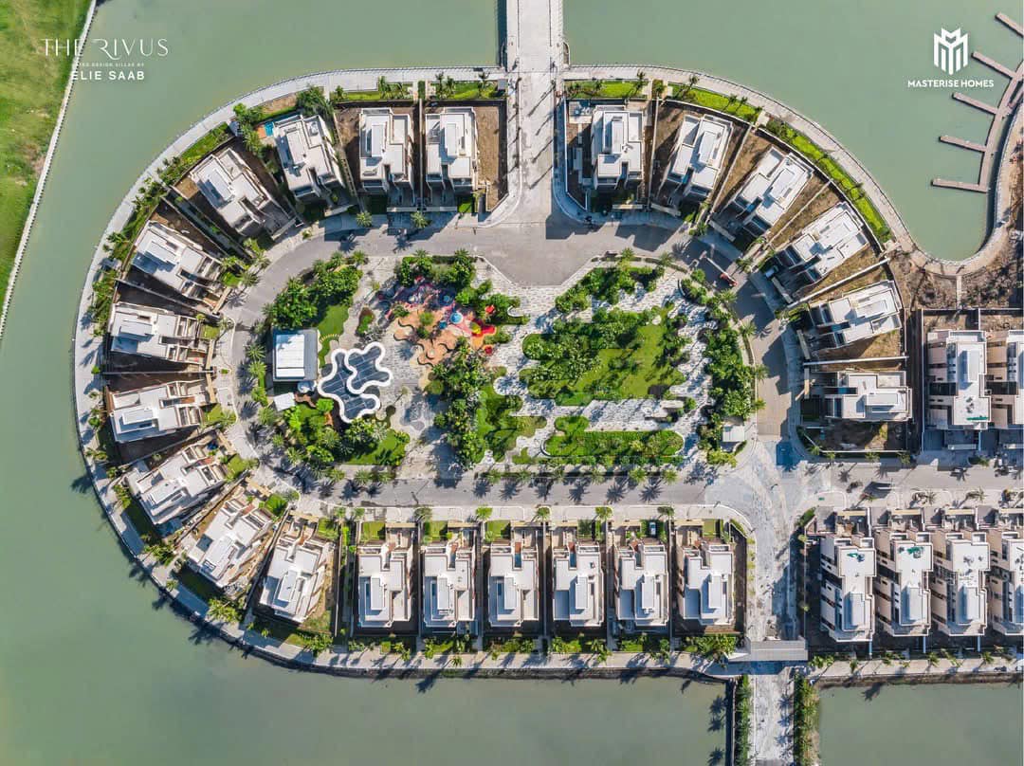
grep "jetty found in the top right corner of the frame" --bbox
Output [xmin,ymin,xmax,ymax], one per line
[931,10,1024,191]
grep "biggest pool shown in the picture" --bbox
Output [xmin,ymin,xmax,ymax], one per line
[255,122,277,139]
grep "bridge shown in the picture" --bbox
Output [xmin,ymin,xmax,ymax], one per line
[501,0,570,67]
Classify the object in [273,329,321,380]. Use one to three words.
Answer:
building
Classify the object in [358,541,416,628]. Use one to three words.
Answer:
house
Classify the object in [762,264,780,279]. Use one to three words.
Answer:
car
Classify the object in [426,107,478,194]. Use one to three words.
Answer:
house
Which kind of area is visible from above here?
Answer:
residential area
